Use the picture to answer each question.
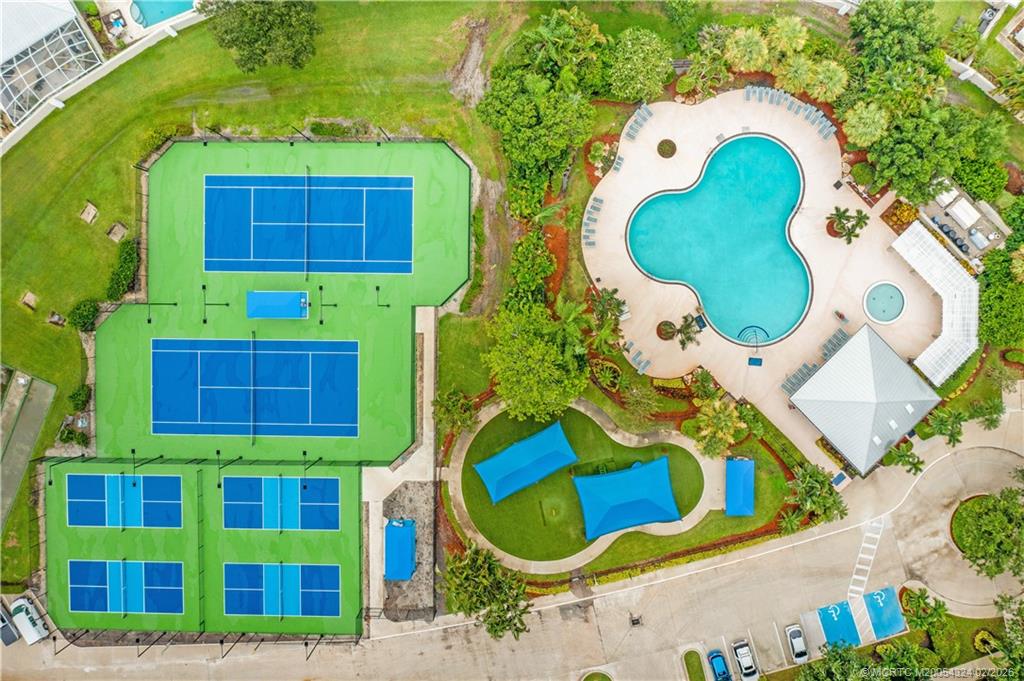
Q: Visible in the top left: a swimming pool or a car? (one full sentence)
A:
There is a swimming pool in the top left.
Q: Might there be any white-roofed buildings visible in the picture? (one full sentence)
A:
Yes, the image includes a white-roofed building.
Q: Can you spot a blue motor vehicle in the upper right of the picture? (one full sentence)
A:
No, the scene shows no blue motor vehicle in the upper right of the picture.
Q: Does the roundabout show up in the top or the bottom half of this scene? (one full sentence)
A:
The roundabout is in the bottom half of the image.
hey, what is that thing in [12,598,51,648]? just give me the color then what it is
white van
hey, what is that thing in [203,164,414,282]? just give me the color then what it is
blue tennis court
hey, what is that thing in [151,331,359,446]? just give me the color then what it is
blue tennis court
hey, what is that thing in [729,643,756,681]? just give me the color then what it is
white car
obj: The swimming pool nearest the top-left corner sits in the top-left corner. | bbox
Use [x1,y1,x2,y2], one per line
[126,0,199,30]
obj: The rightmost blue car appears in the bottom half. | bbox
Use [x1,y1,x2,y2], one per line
[705,653,730,681]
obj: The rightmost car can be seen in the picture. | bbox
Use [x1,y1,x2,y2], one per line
[784,624,809,664]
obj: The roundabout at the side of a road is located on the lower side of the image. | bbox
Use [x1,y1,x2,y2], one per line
[949,487,1024,576]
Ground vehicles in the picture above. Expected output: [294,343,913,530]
[12,598,51,648]
[729,643,756,681]
[705,653,730,681]
[784,624,809,664]
[0,599,21,646]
